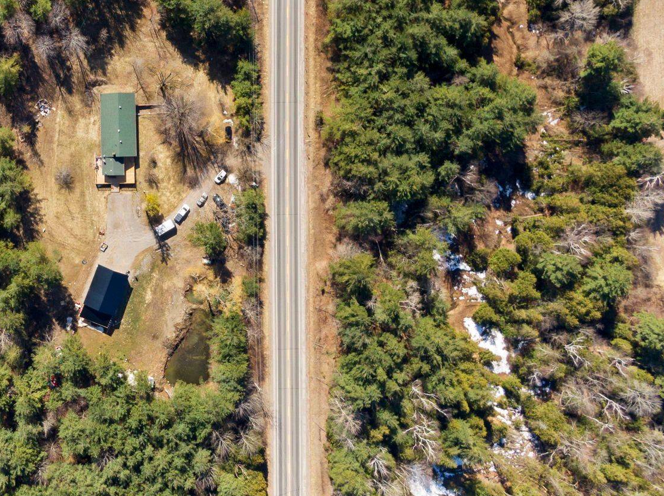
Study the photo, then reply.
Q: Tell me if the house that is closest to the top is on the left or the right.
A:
left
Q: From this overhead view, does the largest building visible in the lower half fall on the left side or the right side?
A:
left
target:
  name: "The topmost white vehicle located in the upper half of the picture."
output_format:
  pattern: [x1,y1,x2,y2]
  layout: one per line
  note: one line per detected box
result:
[214,169,227,183]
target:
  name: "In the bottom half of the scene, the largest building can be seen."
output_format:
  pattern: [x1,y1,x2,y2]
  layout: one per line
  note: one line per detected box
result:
[77,265,128,332]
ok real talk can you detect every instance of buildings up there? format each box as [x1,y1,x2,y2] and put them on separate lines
[98,92,165,190]
[77,265,128,332]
